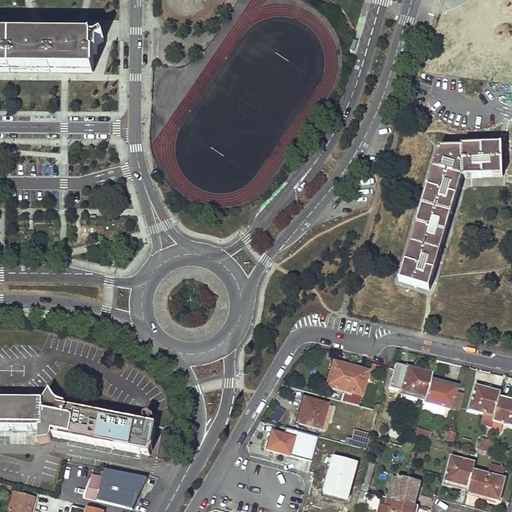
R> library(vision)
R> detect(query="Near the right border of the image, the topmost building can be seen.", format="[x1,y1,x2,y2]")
[399,138,502,289]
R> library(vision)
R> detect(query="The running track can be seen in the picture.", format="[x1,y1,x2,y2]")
[153,0,336,204]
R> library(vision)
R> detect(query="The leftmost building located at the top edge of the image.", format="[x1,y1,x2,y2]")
[0,22,92,72]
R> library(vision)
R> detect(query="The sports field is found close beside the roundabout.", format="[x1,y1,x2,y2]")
[174,16,324,193]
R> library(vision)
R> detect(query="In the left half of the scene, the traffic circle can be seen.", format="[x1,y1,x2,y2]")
[114,228,268,370]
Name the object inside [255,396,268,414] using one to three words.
vehicle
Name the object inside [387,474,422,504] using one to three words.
house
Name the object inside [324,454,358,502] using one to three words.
building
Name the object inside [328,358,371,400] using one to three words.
house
